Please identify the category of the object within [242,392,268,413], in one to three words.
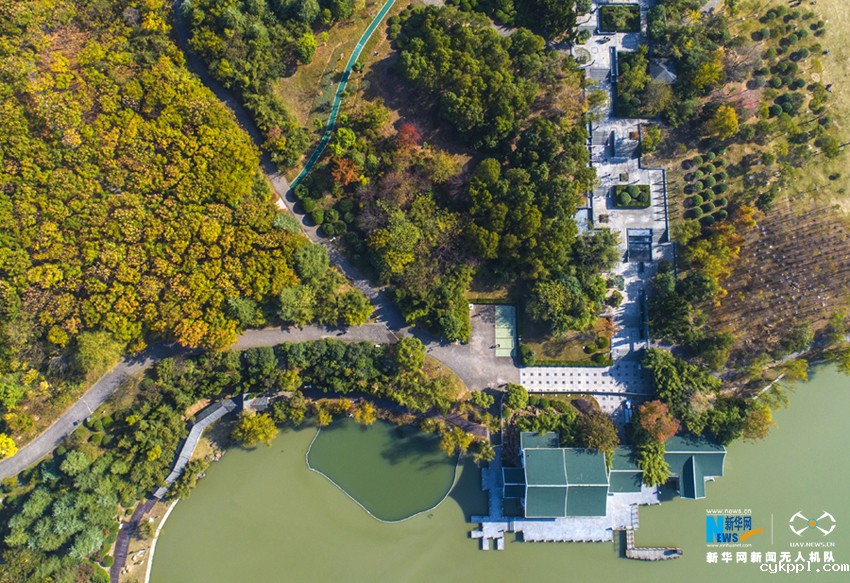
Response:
house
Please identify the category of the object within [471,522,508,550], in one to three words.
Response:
pier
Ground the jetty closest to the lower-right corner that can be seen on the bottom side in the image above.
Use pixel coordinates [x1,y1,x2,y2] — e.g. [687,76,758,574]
[626,529,682,560]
